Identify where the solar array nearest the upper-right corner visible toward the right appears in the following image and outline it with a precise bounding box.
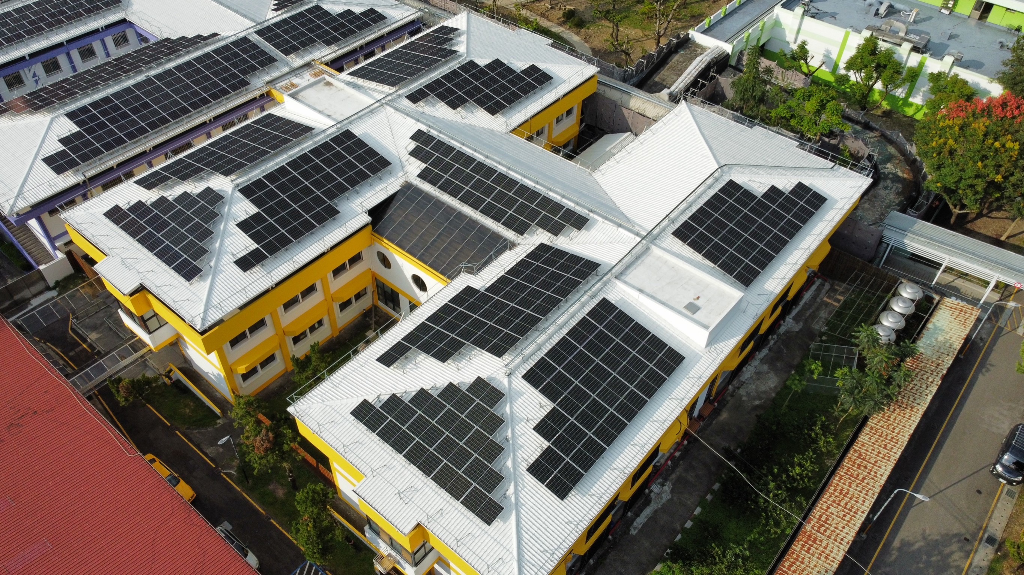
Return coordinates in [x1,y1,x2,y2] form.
[672,179,820,289]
